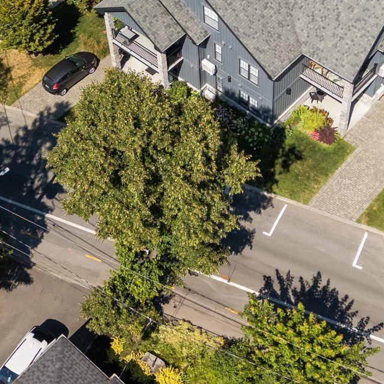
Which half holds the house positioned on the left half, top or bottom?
bottom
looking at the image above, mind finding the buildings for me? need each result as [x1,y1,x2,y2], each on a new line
[94,0,384,136]
[14,334,129,384]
